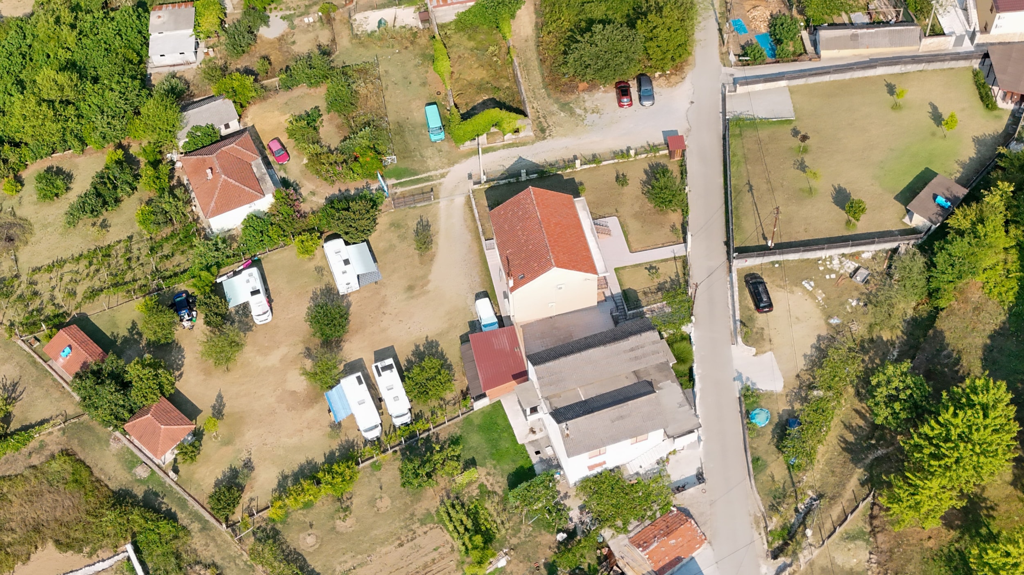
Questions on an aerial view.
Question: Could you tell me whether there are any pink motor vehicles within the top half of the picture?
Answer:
Yes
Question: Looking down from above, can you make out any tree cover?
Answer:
Yes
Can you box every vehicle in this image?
[372,358,414,427]
[614,81,634,110]
[326,373,384,442]
[424,103,446,142]
[744,276,775,313]
[474,289,499,331]
[636,76,656,108]
[324,242,380,307]
[167,292,197,325]
[267,137,291,164]
[218,268,277,334]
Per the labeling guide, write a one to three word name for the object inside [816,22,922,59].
shed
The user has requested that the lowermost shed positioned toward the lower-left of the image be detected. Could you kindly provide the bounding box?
[124,395,195,463]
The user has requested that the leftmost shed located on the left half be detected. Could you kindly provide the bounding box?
[43,324,105,386]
